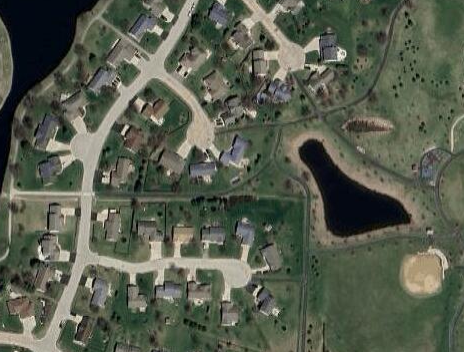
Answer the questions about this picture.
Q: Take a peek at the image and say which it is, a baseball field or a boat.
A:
baseball field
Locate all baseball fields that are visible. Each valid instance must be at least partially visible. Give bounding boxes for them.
[401,248,448,295]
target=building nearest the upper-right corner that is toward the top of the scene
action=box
[319,33,339,61]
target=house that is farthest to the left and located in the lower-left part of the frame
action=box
[7,295,35,321]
